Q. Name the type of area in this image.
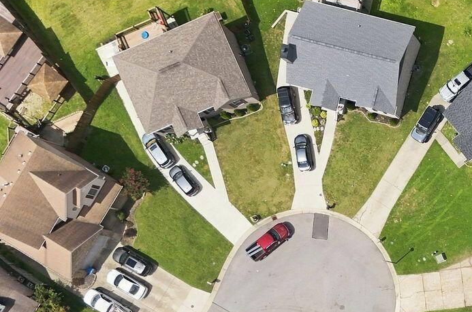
residential area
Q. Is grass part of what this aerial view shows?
Yes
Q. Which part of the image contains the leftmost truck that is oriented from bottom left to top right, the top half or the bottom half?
bottom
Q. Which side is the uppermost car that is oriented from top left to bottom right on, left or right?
left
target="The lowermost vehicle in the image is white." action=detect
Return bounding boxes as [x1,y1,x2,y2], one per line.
[80,286,137,312]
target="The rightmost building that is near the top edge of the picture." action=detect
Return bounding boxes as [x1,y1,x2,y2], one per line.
[282,0,420,123]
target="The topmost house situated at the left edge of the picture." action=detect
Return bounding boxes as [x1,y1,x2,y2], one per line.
[0,129,128,281]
